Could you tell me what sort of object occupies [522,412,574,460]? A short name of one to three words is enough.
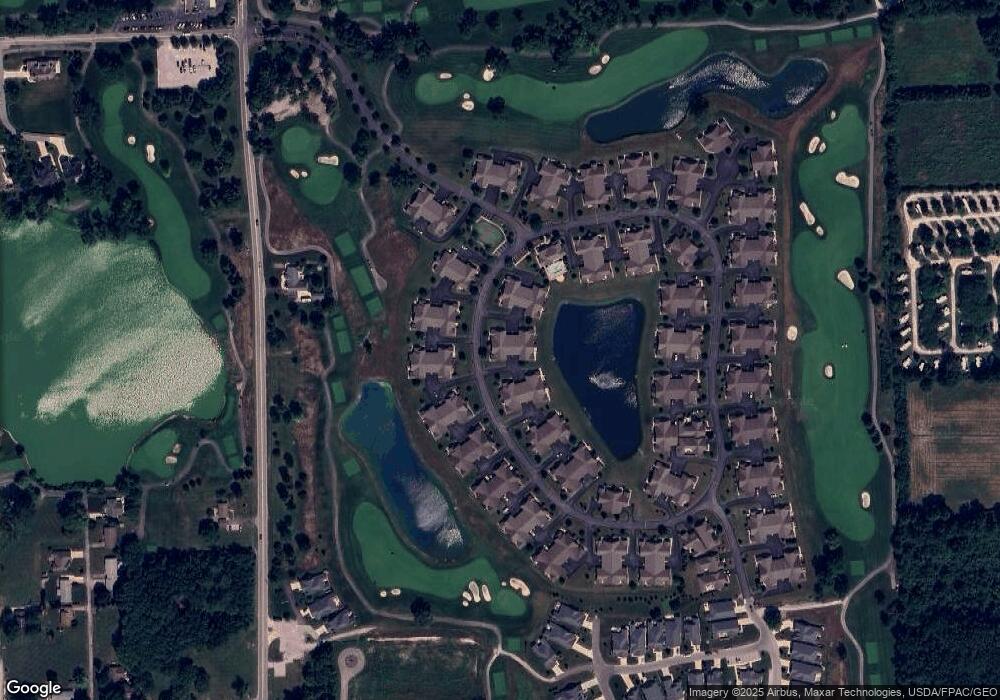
house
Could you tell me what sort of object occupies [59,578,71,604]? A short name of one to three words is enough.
barn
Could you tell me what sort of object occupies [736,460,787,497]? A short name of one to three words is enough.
house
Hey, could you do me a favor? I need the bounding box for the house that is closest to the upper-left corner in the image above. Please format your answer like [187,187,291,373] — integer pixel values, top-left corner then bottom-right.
[27,61,56,78]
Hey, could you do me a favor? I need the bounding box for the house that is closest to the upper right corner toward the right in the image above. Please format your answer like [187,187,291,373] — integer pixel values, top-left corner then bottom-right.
[752,143,776,177]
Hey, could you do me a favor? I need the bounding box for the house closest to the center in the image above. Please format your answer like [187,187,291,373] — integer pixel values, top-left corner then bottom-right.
[488,328,538,360]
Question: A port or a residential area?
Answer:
residential area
